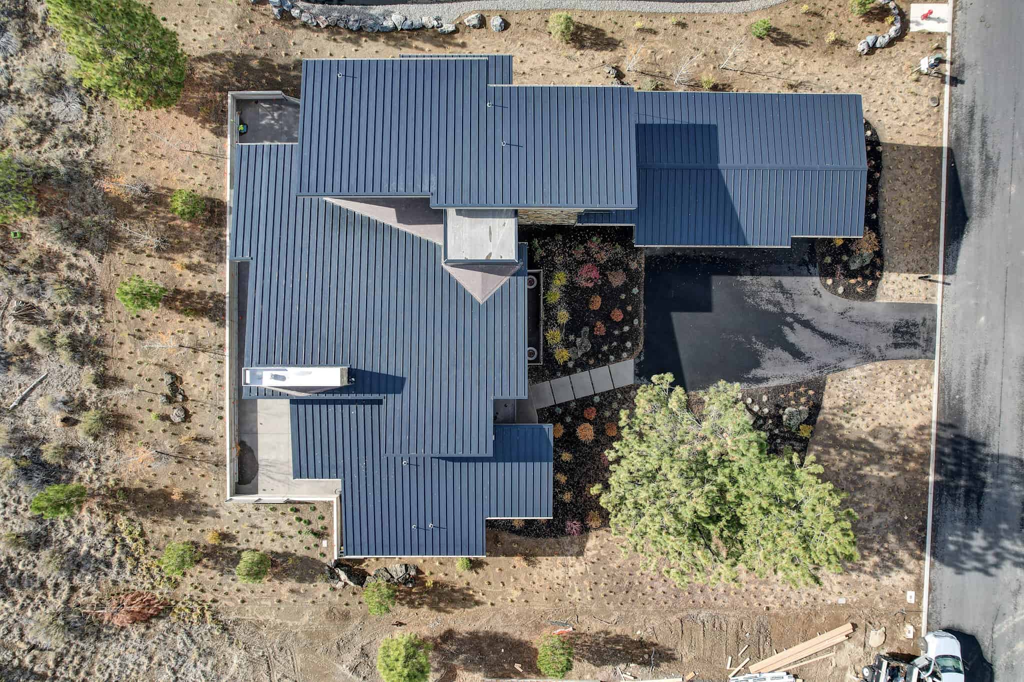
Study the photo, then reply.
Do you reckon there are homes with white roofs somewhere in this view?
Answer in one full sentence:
No, the frame has no home with a white roof in it.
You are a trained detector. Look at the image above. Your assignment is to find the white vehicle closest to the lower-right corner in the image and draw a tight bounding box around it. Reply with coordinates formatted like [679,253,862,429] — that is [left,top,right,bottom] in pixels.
[907,625,968,682]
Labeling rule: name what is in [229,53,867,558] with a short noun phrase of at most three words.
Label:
house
